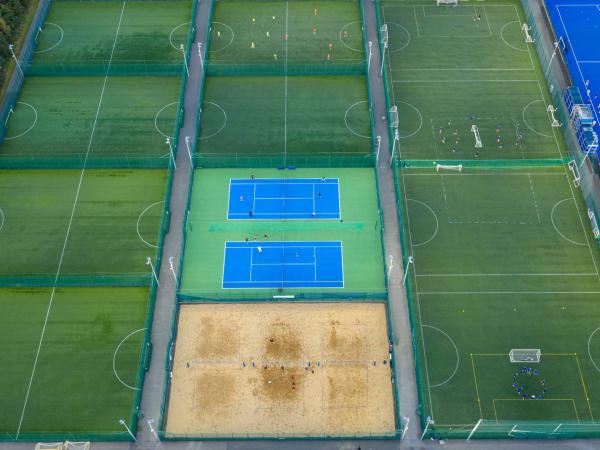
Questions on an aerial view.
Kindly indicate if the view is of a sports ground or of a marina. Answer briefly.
sports ground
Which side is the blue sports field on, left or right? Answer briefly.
right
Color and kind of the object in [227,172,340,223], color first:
blue tennis court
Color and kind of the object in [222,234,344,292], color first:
blue tennis court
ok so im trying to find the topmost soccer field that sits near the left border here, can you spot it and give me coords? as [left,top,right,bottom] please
[25,2,195,76]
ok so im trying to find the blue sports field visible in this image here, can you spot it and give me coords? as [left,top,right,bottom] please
[544,0,600,159]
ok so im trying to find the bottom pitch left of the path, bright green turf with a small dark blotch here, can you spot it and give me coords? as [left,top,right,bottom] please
[0,287,154,435]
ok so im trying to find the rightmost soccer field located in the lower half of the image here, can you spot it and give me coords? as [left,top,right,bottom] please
[398,167,600,437]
